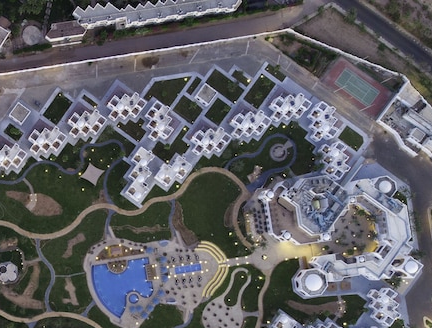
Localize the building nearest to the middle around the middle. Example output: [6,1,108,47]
[190,127,230,155]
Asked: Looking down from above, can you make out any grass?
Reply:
Yes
